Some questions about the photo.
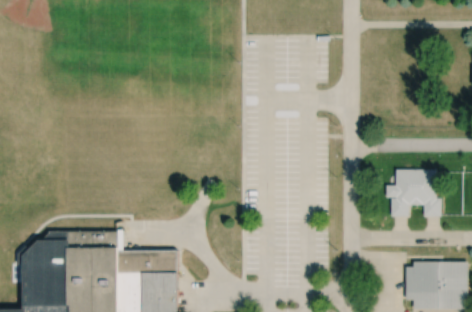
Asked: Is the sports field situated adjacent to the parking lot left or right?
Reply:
left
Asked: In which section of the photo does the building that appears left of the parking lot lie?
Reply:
bottom left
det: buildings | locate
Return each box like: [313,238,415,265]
[388,168,442,216]
[0,228,178,312]
[406,260,470,310]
